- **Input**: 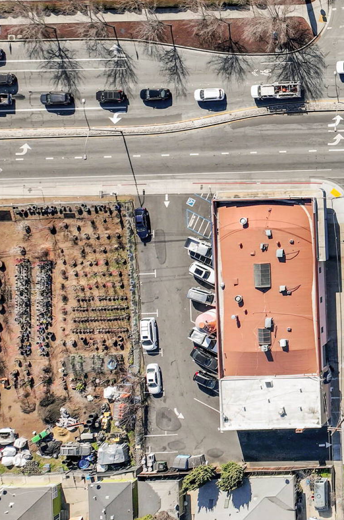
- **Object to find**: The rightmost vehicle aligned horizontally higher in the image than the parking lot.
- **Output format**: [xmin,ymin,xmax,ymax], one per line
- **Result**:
[250,82,303,97]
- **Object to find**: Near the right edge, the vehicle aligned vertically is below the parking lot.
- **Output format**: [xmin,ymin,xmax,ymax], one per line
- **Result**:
[313,477,329,508]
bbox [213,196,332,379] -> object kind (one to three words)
building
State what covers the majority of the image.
paved ground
